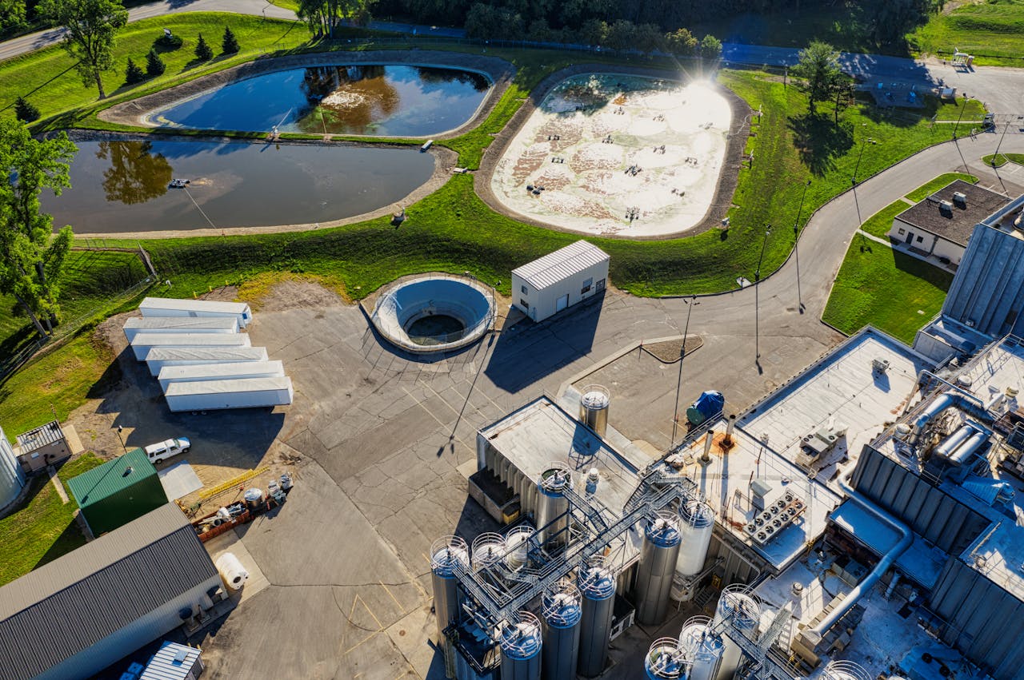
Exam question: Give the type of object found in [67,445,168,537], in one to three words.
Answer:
shed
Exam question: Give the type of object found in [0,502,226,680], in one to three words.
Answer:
shed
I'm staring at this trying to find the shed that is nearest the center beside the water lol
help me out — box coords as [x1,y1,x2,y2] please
[511,240,611,323]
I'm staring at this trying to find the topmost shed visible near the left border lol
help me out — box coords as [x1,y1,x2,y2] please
[16,420,71,470]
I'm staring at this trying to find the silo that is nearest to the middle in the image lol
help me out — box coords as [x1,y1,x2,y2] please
[578,390,609,438]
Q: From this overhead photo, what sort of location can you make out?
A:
industrial area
